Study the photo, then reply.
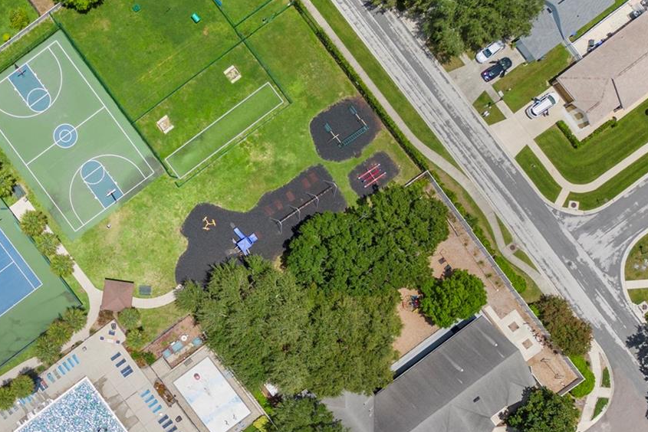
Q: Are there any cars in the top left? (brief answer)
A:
No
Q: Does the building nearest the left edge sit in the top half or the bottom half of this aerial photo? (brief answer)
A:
bottom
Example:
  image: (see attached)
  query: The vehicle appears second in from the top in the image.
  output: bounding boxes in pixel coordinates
[479,57,510,81]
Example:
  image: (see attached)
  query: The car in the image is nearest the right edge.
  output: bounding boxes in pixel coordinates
[525,93,556,117]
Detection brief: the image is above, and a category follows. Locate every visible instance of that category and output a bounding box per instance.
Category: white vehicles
[525,93,556,117]
[472,38,503,63]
